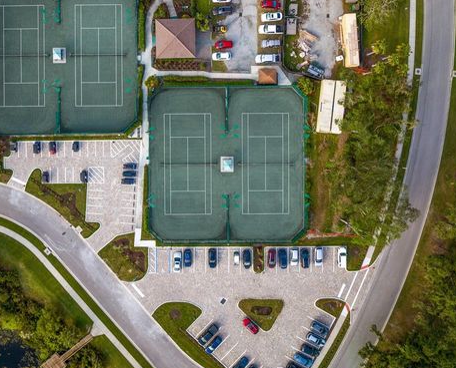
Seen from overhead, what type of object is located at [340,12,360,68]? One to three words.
trailer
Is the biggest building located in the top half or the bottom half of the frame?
top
